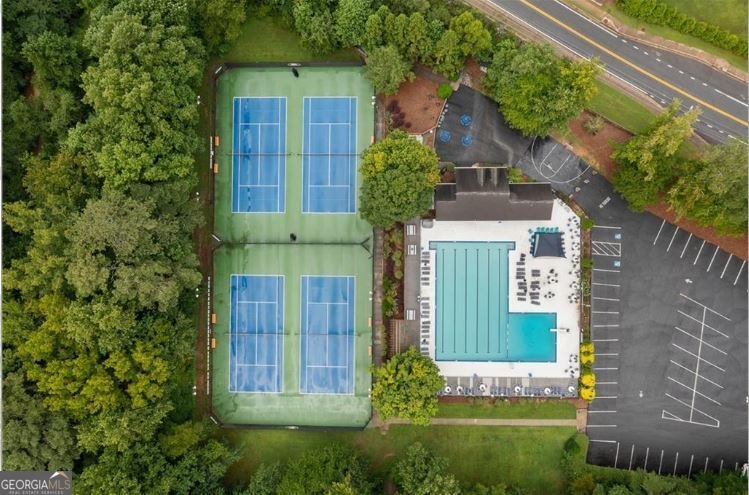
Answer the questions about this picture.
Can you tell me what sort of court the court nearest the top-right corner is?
basketball court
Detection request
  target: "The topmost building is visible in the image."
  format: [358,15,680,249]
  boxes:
[436,167,555,222]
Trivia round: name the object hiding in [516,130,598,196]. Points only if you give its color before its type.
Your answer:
gray basketball court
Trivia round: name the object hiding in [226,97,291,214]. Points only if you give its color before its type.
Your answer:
blue tennis court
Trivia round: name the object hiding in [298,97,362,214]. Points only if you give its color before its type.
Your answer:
blue tennis court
